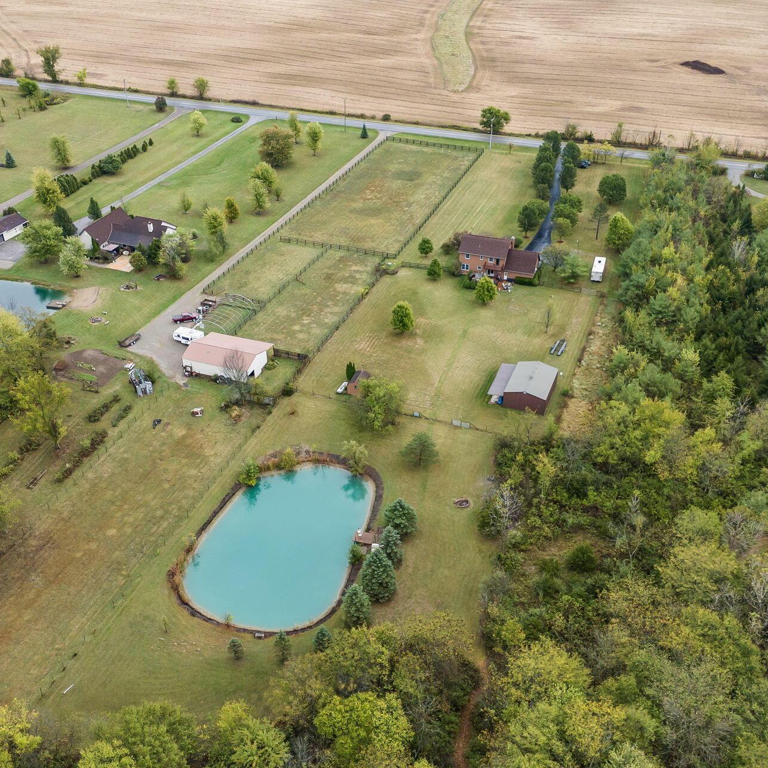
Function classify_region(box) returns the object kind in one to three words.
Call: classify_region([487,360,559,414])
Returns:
shed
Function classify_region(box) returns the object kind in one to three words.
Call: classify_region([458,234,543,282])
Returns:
house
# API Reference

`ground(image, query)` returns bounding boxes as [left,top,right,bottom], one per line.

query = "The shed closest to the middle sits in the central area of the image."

[345,370,370,394]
